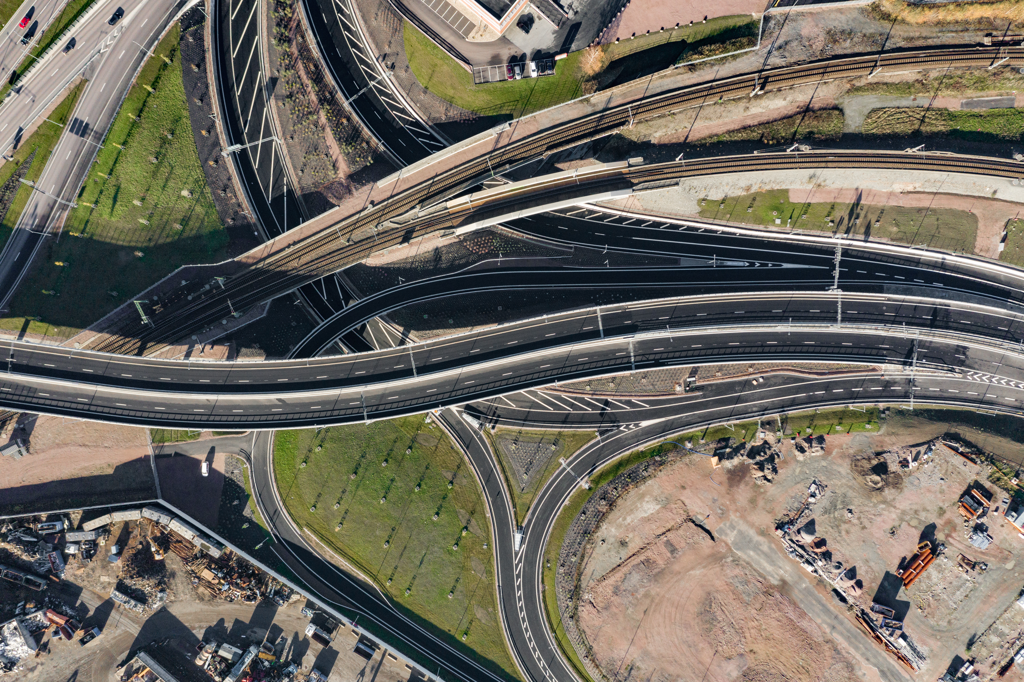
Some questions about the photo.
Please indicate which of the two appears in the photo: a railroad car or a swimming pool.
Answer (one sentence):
This aerial view contains a railroad car.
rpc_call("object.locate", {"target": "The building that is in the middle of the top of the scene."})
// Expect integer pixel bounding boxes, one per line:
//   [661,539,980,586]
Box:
[453,0,530,35]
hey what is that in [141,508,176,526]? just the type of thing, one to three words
rail car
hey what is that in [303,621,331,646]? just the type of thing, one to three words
truck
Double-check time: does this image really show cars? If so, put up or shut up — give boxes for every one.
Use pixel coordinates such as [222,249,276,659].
[18,14,29,29]
[514,65,521,79]
[516,20,530,34]
[546,59,553,73]
[107,10,121,24]
[20,32,31,45]
[538,59,545,74]
[507,64,514,79]
[530,61,537,76]
[60,42,73,55]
